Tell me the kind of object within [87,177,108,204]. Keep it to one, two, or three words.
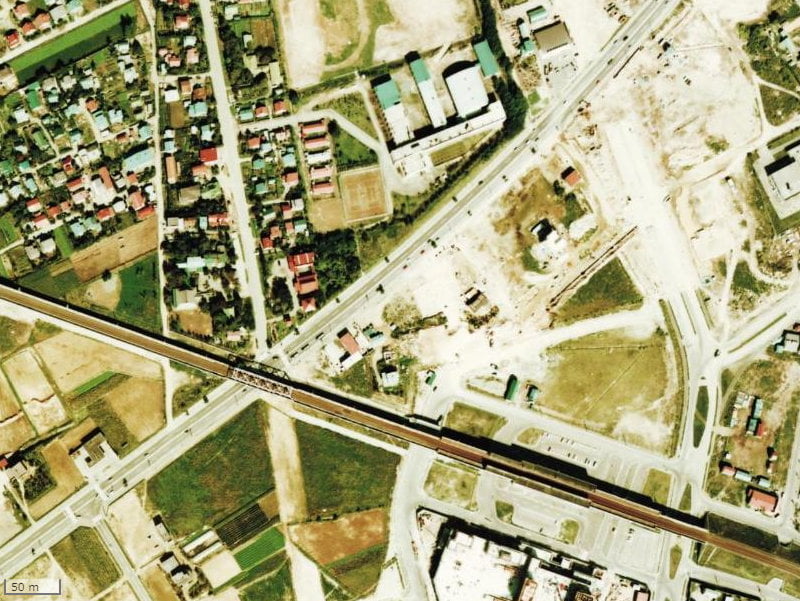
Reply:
house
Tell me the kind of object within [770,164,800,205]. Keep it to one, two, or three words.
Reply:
building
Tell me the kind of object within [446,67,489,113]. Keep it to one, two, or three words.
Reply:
building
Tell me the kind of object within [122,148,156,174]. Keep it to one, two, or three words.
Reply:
house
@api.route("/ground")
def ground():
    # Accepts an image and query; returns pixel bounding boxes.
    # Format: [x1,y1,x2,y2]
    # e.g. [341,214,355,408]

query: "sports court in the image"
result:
[338,165,391,224]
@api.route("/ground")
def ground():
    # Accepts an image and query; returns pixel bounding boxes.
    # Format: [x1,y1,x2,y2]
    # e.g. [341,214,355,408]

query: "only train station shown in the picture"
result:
[438,432,666,531]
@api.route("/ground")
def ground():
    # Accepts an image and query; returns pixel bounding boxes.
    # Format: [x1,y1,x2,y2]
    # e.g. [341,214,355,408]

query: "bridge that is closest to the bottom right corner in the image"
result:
[659,514,711,546]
